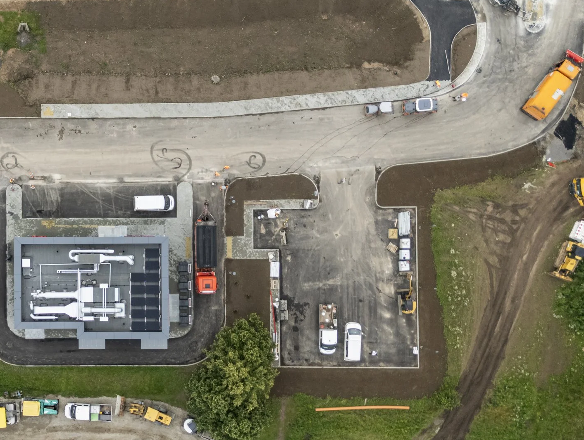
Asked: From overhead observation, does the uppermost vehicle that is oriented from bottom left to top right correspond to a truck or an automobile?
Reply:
truck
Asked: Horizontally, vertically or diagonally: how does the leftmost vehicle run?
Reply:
horizontally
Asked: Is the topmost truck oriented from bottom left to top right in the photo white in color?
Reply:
No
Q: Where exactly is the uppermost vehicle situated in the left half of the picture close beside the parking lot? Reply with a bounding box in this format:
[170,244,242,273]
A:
[193,195,219,295]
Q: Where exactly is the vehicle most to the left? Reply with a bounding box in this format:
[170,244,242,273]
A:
[66,403,112,423]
